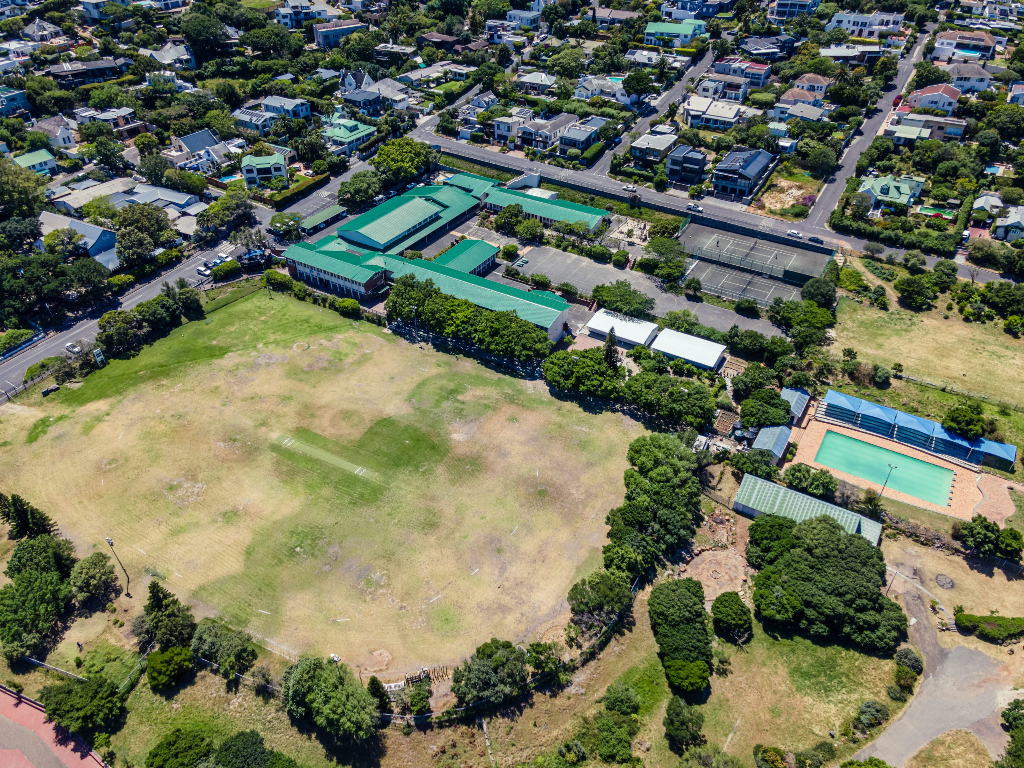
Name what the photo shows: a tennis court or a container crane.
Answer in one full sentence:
The one in the frame is a tennis court.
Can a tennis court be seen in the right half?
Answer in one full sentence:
Yes, in the right half there is a tennis court.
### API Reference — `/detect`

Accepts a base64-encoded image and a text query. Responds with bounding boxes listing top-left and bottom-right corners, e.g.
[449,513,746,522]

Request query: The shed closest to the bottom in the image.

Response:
[734,481,883,551]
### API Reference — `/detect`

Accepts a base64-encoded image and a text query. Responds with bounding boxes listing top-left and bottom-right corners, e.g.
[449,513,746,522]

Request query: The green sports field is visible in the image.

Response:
[275,435,378,479]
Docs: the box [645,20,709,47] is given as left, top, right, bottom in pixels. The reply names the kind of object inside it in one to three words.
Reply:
building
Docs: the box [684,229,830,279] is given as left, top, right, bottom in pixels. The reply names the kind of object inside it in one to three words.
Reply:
tennis court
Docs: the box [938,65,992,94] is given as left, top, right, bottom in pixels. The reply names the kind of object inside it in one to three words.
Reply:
house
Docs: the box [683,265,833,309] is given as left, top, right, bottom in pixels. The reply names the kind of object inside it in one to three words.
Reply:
tennis court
